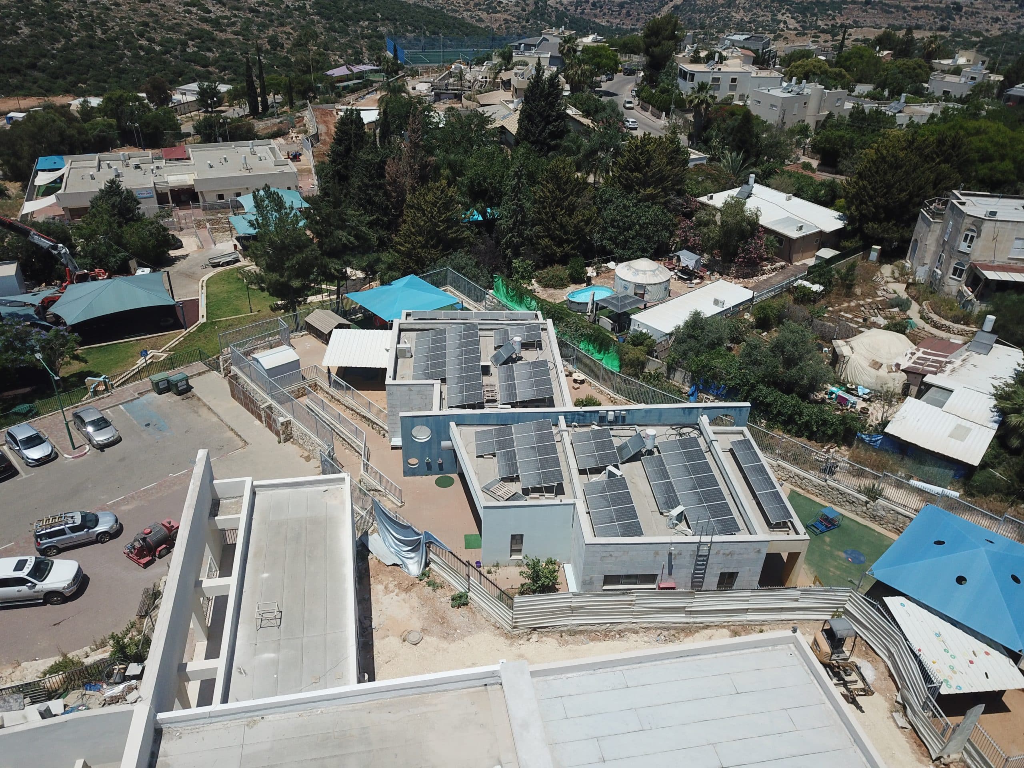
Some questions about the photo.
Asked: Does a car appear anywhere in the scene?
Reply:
Yes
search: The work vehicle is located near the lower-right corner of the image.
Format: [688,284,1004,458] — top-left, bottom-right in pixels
[815,616,866,690]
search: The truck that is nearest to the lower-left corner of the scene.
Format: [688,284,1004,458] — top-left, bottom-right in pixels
[0,555,81,606]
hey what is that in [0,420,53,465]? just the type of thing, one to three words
car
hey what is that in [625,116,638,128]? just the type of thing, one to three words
vehicle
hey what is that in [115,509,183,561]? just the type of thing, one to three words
trailer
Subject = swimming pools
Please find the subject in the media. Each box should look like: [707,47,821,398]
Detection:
[566,284,619,308]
